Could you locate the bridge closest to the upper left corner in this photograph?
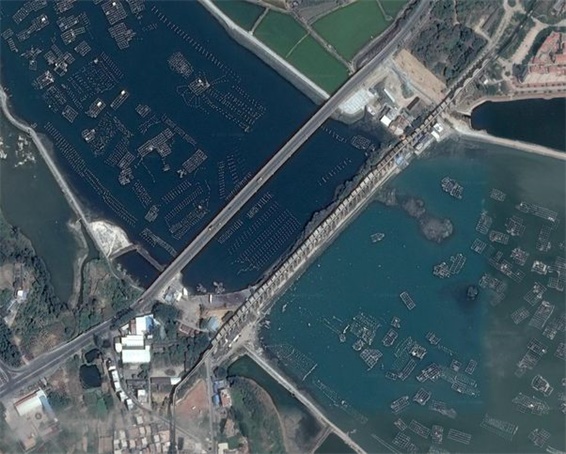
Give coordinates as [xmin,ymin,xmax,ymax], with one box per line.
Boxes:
[163,112,325,281]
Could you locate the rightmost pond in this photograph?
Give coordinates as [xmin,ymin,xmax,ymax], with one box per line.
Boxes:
[469,97,566,151]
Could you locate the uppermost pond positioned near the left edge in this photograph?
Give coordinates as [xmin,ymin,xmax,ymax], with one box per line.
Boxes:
[0,97,99,309]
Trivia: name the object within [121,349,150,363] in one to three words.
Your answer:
building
